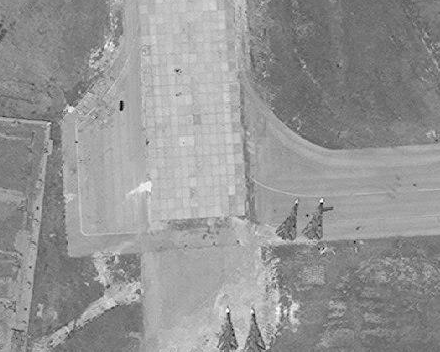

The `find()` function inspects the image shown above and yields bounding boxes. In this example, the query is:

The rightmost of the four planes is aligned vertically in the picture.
[303,200,322,242]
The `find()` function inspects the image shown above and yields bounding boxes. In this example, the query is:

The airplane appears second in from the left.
[245,309,265,351]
